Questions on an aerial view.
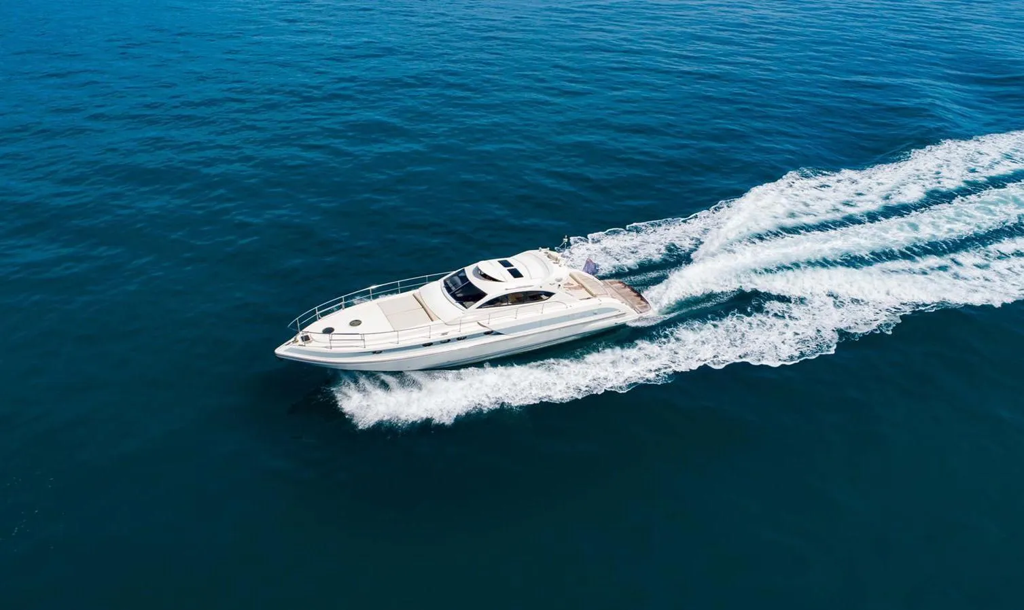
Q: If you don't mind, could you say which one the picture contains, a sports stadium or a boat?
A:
boat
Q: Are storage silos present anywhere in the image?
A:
No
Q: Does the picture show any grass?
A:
No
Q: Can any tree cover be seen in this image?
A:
No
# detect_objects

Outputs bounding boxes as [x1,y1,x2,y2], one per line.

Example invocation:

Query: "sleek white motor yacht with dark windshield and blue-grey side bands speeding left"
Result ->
[272,233,650,372]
